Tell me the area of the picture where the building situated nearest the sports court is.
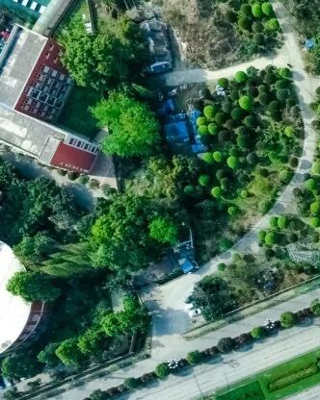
top left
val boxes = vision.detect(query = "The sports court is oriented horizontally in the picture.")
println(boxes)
[0,0,53,25]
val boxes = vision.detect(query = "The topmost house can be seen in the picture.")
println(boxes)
[137,18,173,72]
